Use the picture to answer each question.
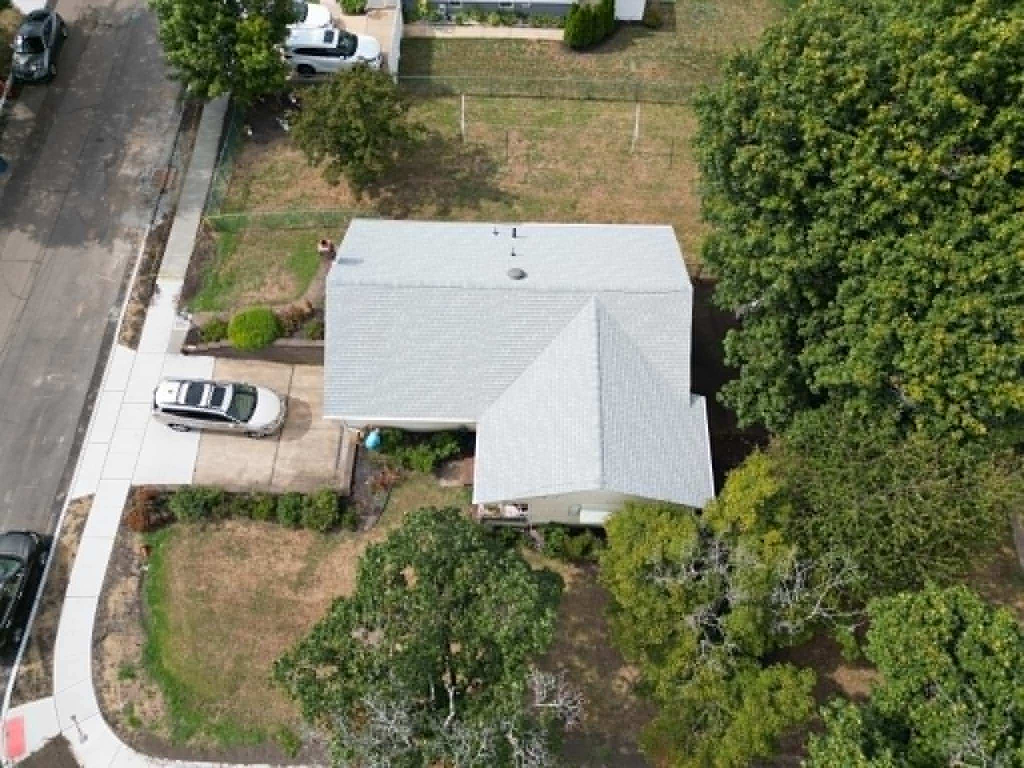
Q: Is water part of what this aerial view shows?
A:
No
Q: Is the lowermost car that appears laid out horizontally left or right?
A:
left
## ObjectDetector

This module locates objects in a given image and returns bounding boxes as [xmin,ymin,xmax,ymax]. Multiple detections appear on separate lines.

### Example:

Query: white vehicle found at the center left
[150,375,285,437]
